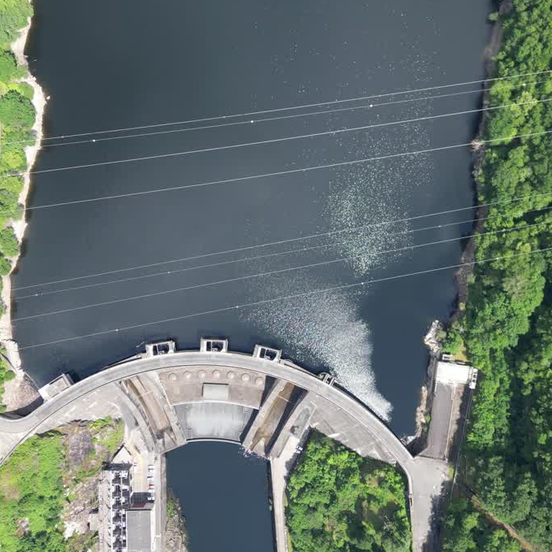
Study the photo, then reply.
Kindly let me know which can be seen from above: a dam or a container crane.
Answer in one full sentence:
Visible in the photo is a dam.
